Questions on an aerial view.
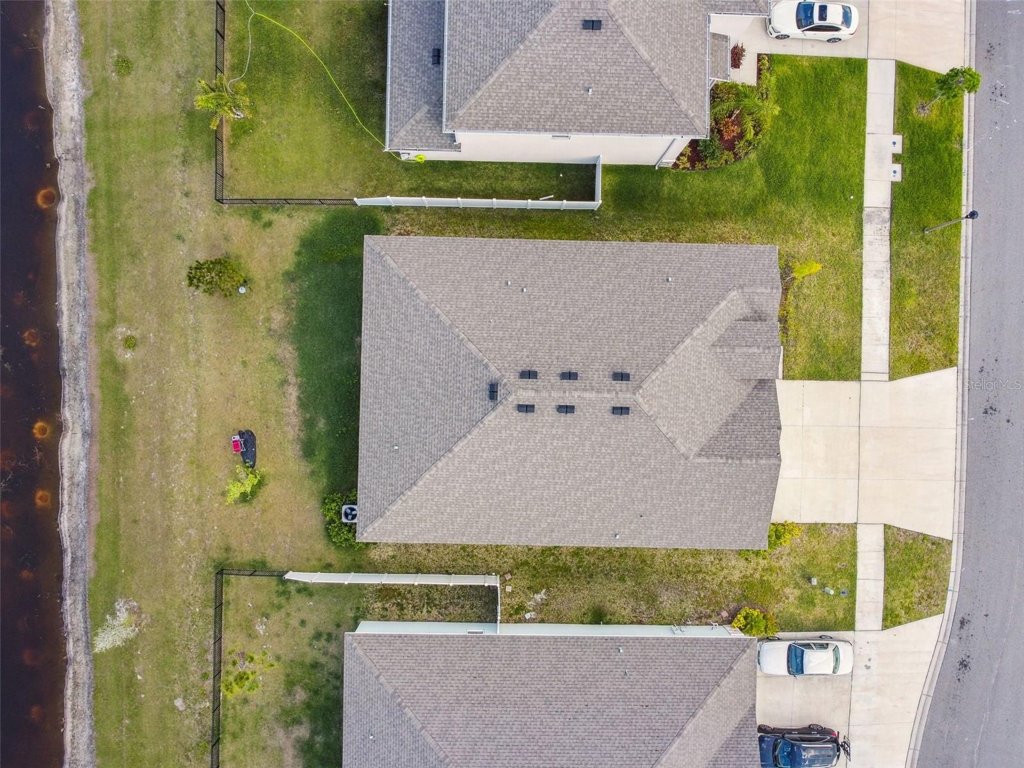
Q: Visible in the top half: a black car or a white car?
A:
white car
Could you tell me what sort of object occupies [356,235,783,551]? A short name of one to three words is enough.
house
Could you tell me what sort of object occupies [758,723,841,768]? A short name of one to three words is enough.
car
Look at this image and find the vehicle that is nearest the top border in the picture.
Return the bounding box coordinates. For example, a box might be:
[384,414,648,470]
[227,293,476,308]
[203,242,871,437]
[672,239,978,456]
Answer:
[766,0,861,45]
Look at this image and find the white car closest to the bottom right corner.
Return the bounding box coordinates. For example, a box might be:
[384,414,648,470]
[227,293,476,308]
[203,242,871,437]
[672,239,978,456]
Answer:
[758,634,854,680]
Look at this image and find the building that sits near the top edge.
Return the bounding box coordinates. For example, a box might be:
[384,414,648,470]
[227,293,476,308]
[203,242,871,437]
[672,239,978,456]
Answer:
[384,0,773,171]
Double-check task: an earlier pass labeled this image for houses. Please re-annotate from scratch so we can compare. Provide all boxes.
[384,0,773,171]
[341,622,762,768]
[356,235,783,551]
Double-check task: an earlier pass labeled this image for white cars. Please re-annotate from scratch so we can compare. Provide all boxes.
[758,634,854,680]
[766,0,861,45]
